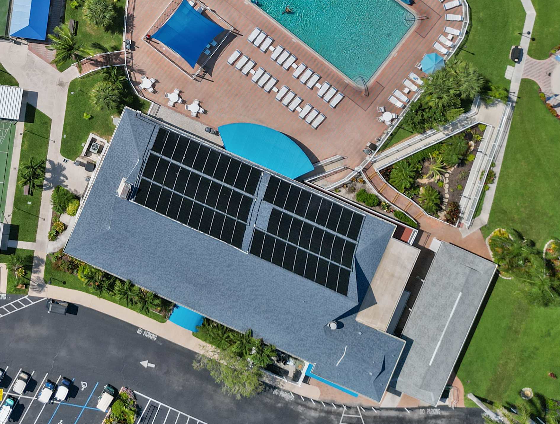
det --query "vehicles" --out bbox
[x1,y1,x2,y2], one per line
[98,383,114,408]
[38,377,55,405]
[54,375,72,401]
[45,297,68,314]
[13,369,30,394]
[0,395,16,424]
